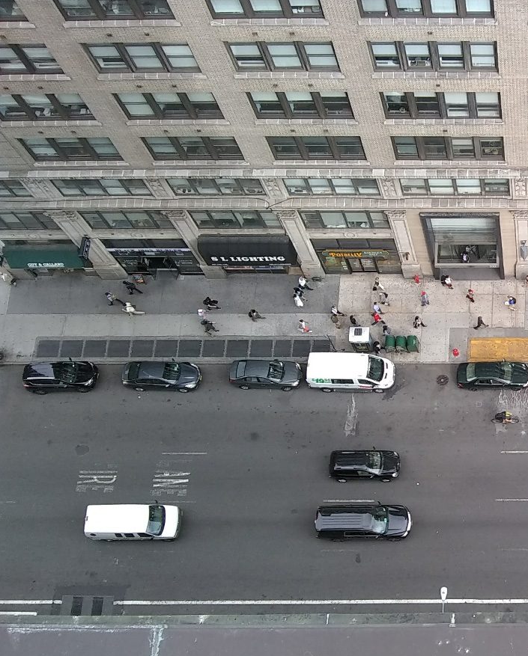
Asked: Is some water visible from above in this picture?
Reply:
No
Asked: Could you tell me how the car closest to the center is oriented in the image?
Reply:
from left to right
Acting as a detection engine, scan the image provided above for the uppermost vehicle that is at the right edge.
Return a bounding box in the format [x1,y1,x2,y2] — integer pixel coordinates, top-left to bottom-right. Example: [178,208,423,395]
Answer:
[457,355,528,389]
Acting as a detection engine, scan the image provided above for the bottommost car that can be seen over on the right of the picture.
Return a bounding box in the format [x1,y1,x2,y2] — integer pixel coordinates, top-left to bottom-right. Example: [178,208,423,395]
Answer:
[314,498,413,540]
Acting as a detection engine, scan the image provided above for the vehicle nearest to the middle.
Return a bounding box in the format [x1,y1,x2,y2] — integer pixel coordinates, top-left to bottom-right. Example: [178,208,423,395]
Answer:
[228,355,304,391]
